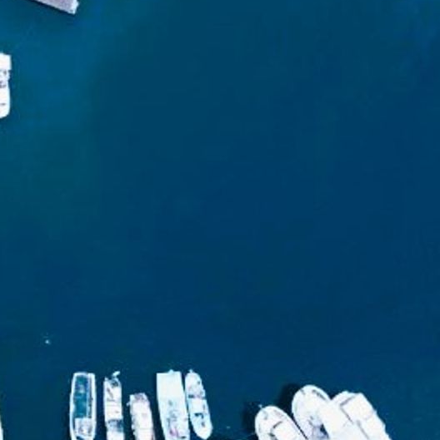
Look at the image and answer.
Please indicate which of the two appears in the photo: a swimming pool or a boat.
boat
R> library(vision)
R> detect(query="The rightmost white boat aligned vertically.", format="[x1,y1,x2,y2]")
[183,367,211,440]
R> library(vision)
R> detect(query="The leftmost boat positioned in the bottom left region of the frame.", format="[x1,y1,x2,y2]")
[70,372,97,440]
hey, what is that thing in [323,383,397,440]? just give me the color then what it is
white boat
